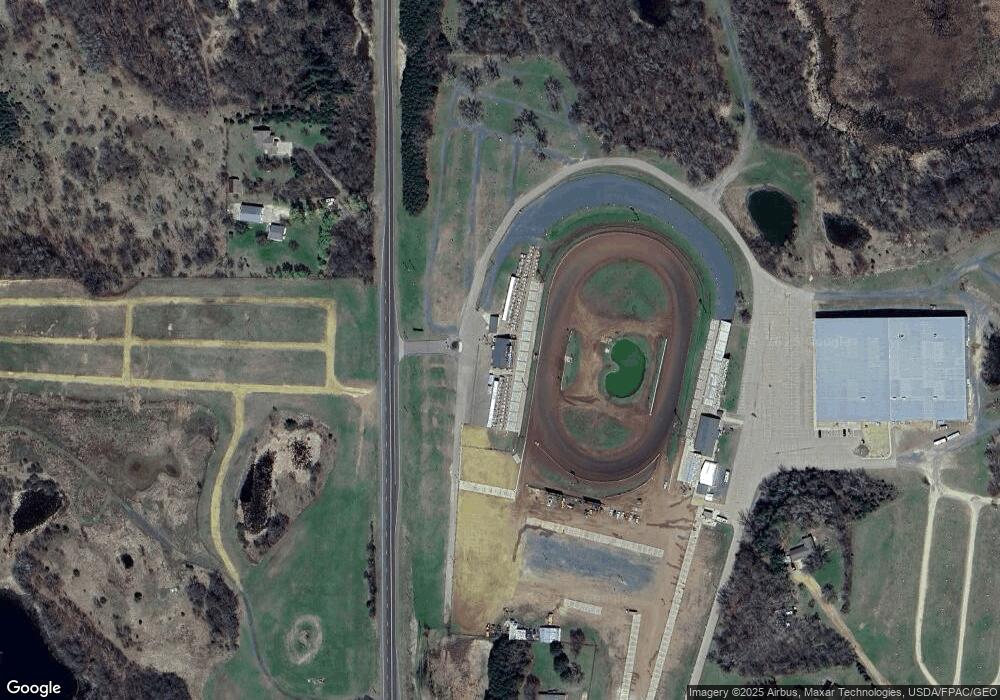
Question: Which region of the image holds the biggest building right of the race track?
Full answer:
Look in the right portion of the view to spot the biggest building right of the race track.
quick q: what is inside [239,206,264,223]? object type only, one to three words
barn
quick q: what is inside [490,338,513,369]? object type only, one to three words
building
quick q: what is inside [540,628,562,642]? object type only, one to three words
shed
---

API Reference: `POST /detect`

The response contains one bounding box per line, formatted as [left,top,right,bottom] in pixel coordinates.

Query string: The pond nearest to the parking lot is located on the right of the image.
[748,190,797,244]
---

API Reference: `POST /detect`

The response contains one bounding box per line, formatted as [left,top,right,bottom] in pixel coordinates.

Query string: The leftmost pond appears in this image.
[14,475,62,527]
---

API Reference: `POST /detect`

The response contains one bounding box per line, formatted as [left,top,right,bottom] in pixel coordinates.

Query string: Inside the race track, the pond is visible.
[606,340,646,397]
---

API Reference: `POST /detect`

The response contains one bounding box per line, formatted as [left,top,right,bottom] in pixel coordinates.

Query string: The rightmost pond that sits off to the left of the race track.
[239,451,275,534]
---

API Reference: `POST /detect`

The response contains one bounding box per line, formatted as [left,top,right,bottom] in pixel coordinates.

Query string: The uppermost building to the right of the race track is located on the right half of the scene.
[815,317,970,425]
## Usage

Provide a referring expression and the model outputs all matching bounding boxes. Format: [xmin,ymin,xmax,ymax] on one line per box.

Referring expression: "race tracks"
[515,227,703,494]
